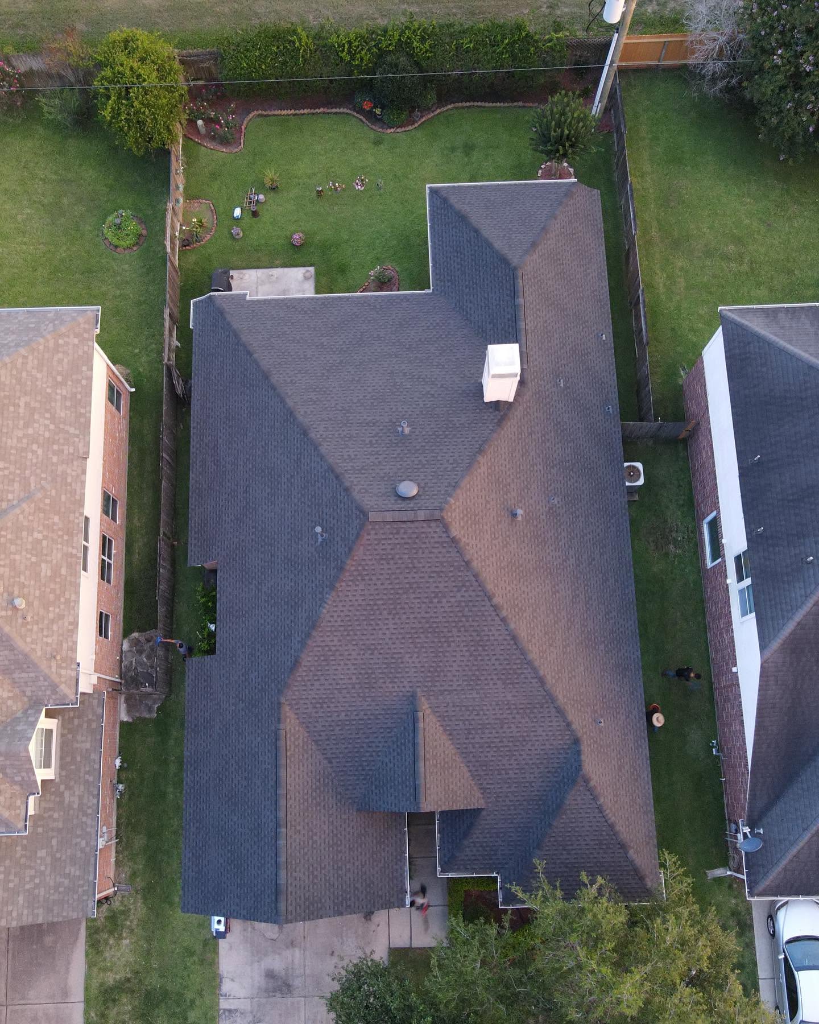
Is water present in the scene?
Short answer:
No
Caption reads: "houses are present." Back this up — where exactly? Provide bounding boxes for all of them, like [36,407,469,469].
[680,302,819,903]
[182,179,667,920]
[0,306,143,927]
